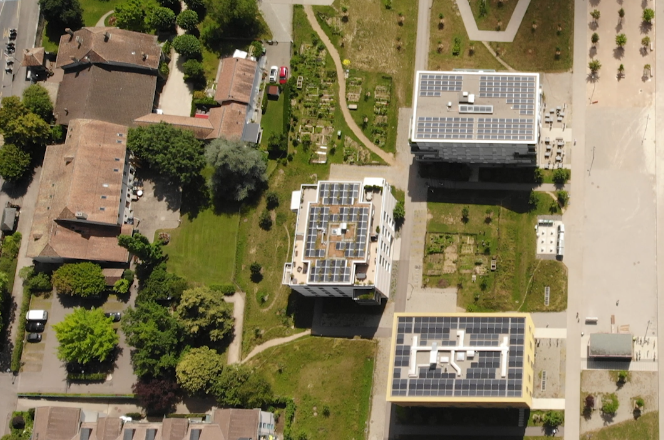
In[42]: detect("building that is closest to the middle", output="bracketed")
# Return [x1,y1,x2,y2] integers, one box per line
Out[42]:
[283,177,400,299]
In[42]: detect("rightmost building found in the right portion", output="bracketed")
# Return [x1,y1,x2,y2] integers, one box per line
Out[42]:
[589,333,631,358]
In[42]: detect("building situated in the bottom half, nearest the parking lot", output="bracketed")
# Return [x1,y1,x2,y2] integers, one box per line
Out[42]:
[101,269,128,285]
